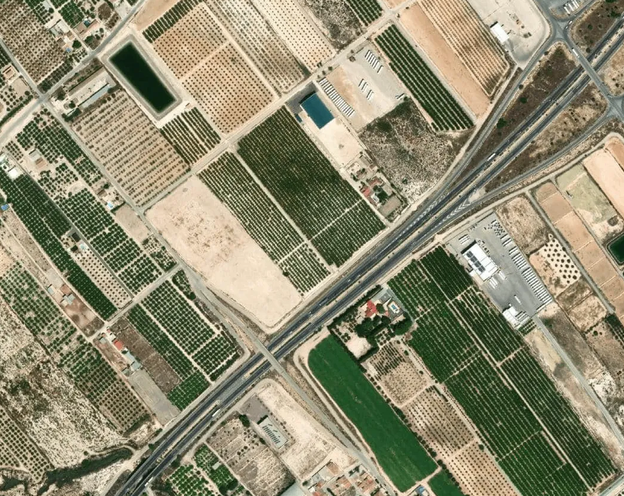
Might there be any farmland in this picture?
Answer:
Yes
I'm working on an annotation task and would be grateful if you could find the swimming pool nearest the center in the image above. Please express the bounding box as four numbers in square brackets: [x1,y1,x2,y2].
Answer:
[383,297,405,319]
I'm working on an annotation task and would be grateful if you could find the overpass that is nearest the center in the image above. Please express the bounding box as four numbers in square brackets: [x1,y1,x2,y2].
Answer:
[209,290,321,414]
